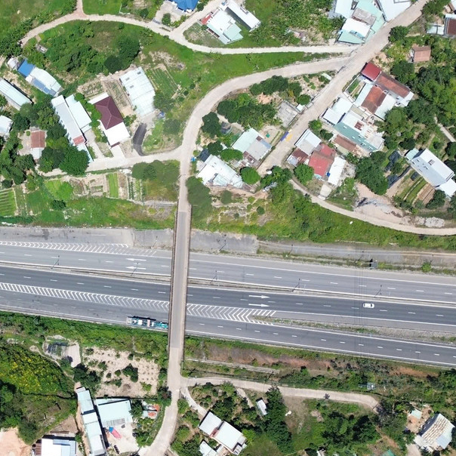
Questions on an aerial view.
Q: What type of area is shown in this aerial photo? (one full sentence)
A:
The picture captures a residential area.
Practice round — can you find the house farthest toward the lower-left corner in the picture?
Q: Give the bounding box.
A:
[33,438,74,456]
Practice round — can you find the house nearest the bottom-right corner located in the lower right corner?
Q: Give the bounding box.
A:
[414,414,454,452]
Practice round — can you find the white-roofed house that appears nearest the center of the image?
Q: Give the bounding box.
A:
[200,156,243,190]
